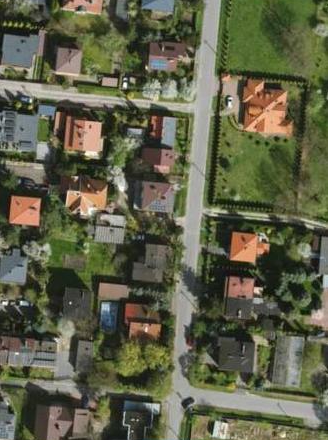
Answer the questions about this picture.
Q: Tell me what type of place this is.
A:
residential area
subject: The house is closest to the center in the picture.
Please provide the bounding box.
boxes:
[141,181,176,216]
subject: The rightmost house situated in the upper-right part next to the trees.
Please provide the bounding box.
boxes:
[240,79,293,138]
